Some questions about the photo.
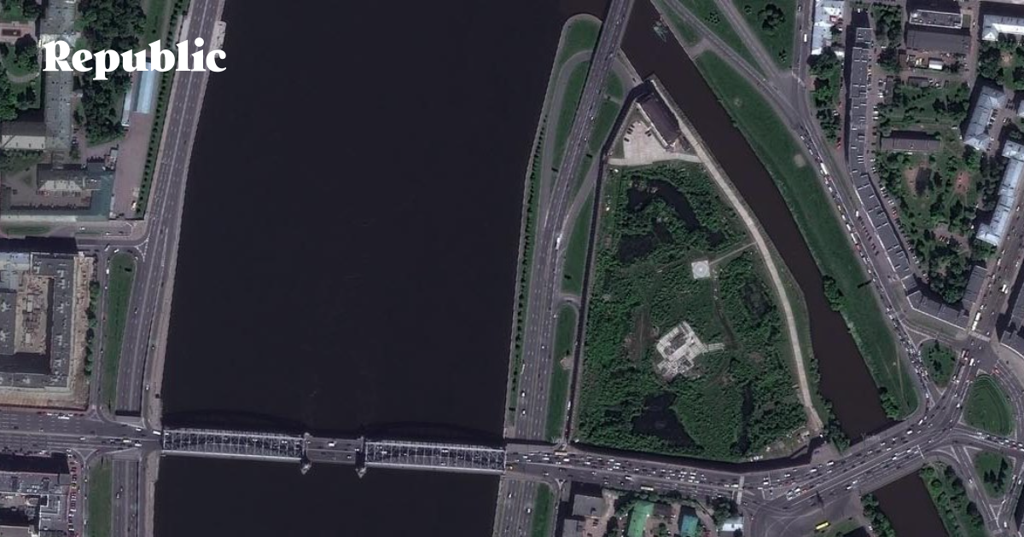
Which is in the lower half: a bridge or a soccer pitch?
bridge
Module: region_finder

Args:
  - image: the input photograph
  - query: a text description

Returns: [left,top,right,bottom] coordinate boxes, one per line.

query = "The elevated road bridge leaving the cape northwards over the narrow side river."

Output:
[555,0,637,177]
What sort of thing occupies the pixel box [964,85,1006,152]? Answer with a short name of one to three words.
building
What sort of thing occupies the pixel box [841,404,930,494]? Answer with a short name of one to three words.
bridge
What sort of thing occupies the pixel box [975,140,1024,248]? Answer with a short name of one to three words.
house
